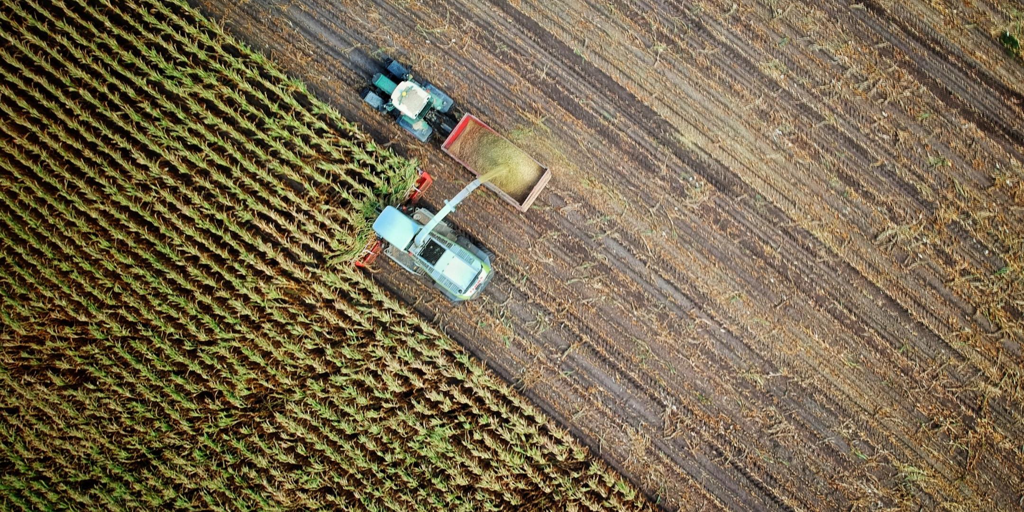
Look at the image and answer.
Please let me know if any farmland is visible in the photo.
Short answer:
Yes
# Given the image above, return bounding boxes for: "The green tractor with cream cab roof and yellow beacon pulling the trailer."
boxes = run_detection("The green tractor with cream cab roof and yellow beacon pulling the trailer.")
[362,60,455,148]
